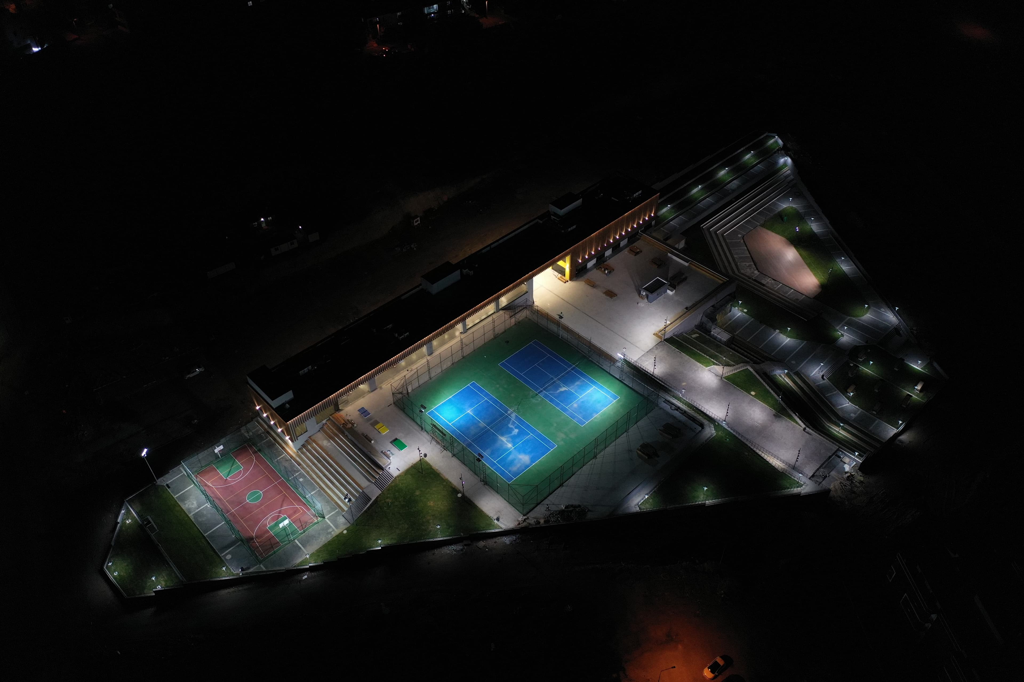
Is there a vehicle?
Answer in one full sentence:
Yes, the picture does show a vehicle.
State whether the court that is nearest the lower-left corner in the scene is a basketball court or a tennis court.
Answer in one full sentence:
Specifically, the court that is nearest the lower-left corner is a basketball court.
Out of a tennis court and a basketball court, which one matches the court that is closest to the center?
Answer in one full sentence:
I'd identify the court that is closest to the center as a tennis court.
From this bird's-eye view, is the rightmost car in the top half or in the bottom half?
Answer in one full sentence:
You can find the rightmost car in the bottom half.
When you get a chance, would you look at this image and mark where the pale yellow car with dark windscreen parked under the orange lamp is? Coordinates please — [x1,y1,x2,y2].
[702,655,728,681]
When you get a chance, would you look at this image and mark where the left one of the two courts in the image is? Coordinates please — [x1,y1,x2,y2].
[188,437,323,562]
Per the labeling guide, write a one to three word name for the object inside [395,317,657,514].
tennis court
